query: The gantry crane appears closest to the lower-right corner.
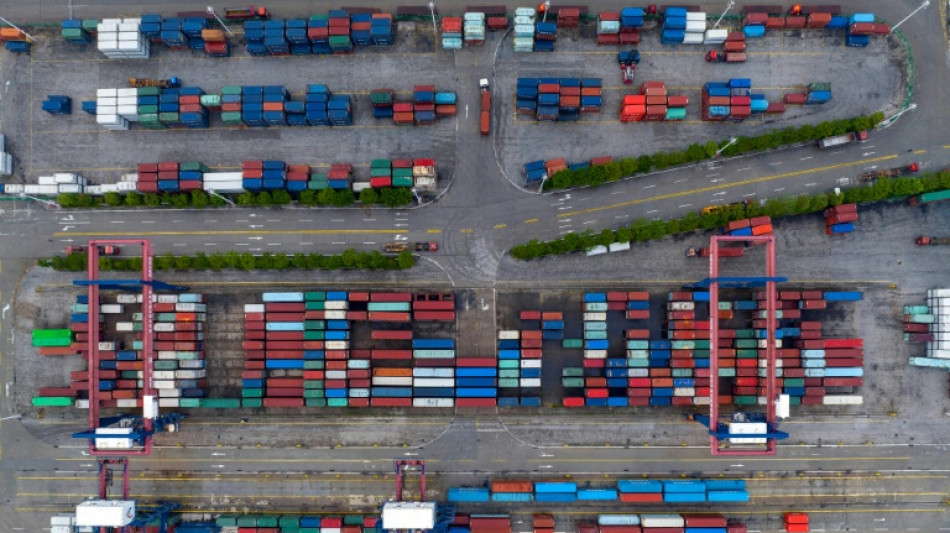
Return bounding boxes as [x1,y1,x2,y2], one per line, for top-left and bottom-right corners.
[675,234,791,457]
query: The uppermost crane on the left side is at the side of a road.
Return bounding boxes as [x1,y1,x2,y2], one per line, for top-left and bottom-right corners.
[72,237,196,457]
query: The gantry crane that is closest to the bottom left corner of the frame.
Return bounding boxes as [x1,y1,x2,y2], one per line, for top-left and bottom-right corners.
[76,454,191,533]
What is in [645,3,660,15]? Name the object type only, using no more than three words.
vehicle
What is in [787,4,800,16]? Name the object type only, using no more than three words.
vehicle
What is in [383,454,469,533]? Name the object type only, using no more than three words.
container crane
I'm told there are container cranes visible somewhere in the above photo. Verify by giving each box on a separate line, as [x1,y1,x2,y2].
[76,454,191,533]
[675,234,791,457]
[383,454,469,533]
[72,237,196,457]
